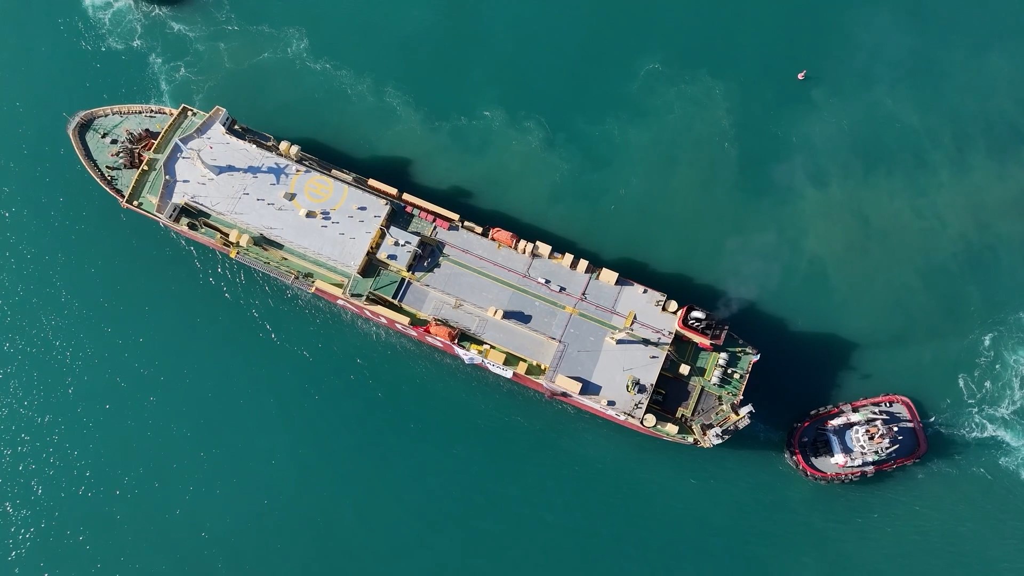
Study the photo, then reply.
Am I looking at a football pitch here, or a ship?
ship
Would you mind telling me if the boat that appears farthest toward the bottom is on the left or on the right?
right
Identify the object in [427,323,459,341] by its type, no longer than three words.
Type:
boat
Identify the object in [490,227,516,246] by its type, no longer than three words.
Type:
boat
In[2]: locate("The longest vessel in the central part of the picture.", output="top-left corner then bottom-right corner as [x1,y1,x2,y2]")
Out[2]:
[56,102,756,448]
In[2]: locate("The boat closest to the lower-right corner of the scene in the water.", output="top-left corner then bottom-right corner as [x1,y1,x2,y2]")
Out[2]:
[787,391,928,481]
